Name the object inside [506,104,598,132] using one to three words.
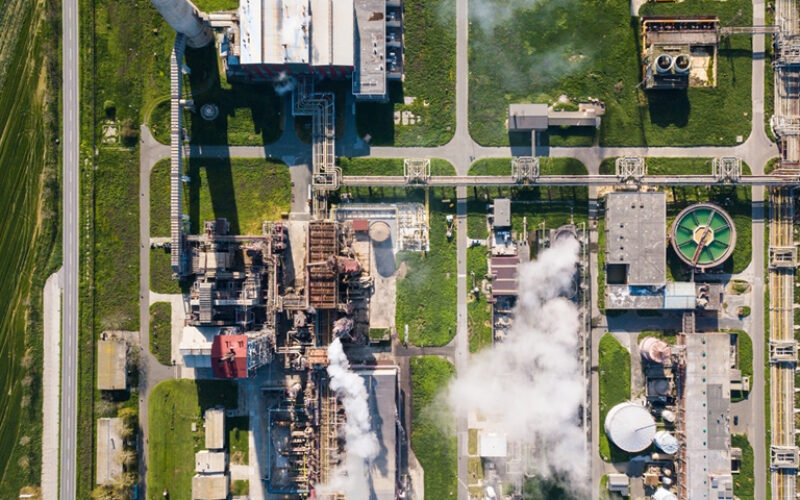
building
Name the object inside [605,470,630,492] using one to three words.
shed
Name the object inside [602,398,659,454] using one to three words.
storage tank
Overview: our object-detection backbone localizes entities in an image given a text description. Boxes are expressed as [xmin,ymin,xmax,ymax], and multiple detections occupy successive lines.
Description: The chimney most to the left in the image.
[147,0,219,52]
